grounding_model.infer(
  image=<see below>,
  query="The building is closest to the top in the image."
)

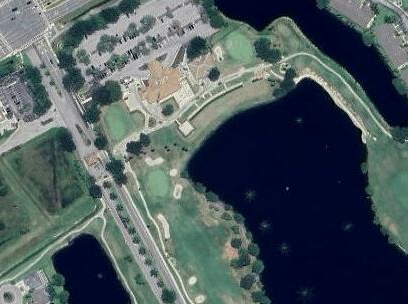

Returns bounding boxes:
[327,0,375,28]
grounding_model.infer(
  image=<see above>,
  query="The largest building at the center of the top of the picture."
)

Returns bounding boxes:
[138,59,184,106]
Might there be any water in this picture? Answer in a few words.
Yes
